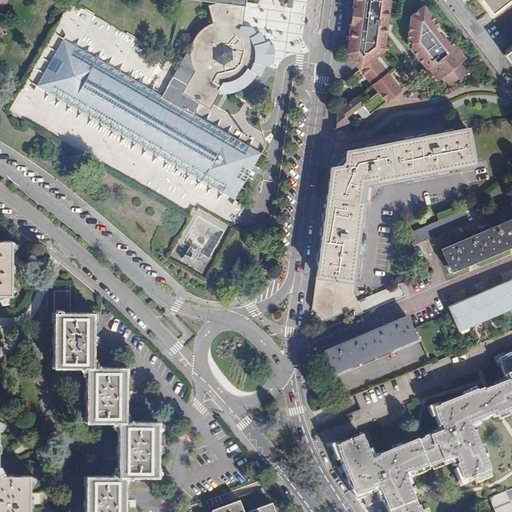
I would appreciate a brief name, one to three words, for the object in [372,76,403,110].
house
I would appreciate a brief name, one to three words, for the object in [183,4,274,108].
building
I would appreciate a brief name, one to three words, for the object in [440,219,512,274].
building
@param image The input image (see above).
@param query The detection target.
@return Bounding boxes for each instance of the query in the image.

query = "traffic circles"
[210,330,268,396]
